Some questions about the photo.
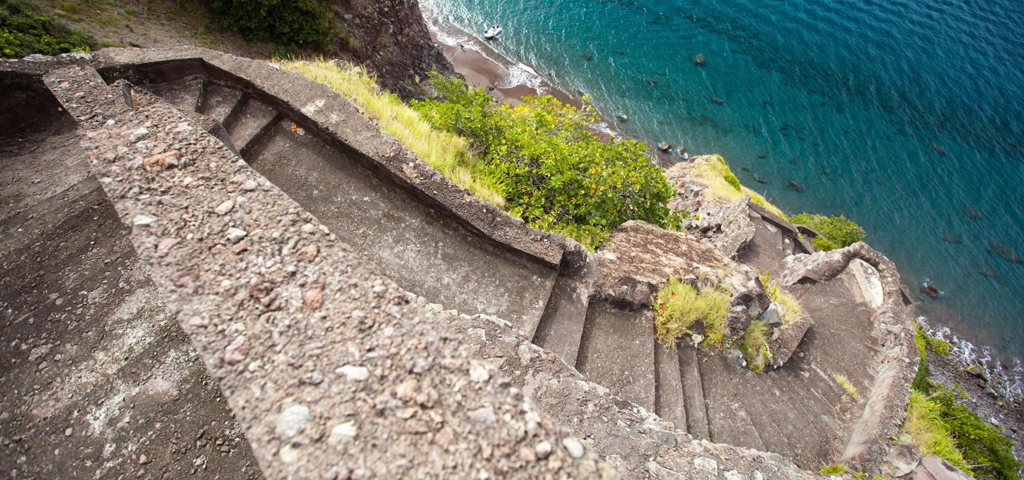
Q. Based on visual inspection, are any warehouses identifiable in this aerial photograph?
No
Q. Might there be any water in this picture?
Yes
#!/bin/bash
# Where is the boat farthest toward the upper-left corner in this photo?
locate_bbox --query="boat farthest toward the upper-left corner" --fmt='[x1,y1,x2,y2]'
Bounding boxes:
[482,25,502,38]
